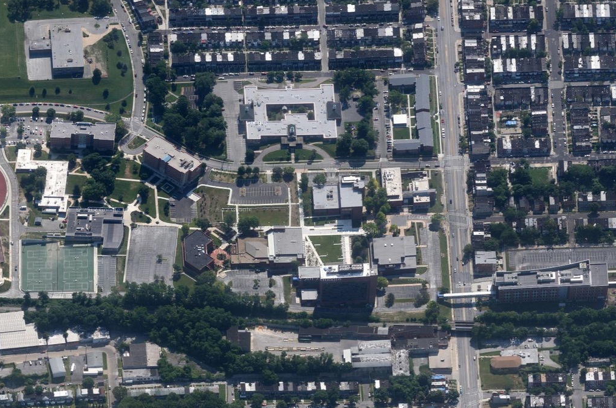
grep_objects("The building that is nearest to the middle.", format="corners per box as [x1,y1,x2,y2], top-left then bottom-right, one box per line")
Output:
[313,185,340,215]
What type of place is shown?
residential area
